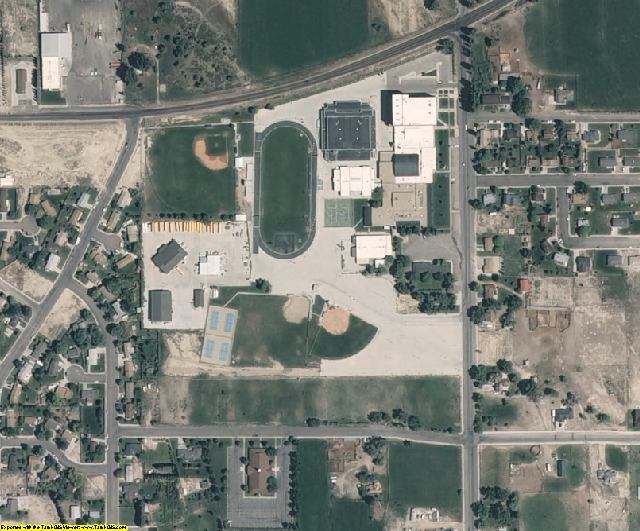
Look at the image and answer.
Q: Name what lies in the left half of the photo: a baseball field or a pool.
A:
baseball field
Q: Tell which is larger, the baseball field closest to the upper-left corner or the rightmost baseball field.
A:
the baseball field closest to the upper-left corner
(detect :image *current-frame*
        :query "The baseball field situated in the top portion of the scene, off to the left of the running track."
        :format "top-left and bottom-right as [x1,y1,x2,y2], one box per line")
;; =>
[146,124,235,214]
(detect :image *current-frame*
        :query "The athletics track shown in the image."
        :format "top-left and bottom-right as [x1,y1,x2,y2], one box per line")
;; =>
[254,121,317,259]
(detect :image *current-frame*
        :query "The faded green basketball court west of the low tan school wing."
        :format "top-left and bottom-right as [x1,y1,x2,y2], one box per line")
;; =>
[324,199,354,226]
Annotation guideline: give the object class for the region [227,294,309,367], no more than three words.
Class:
baseball field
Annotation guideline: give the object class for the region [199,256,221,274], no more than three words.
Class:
building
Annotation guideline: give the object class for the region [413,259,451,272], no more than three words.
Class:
house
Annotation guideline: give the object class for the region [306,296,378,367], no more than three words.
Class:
baseball field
